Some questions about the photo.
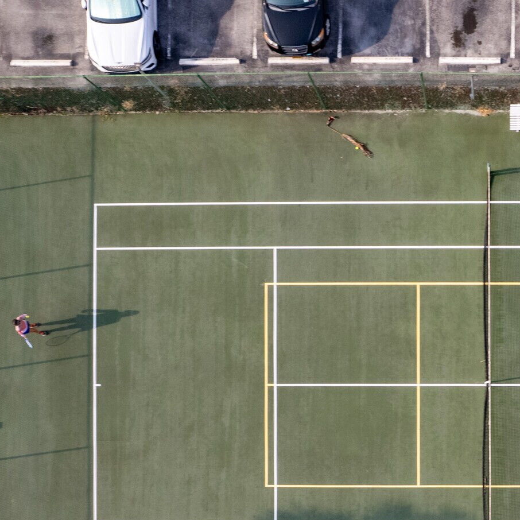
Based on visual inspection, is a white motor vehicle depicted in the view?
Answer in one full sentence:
Yes, you can see a white motor vehicle in this photo.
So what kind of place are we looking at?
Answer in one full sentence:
What you see here is a sports ground.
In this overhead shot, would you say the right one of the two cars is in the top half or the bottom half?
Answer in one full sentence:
It is in the top half that the right one of the two cars appears.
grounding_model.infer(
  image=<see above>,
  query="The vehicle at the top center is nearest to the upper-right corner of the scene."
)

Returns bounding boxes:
[263,0,327,59]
